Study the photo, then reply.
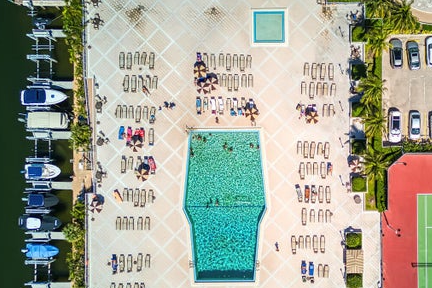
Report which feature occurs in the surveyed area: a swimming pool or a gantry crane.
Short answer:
swimming pool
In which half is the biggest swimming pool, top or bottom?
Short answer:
bottom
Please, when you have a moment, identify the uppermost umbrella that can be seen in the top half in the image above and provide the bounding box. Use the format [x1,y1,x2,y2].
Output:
[193,64,207,77]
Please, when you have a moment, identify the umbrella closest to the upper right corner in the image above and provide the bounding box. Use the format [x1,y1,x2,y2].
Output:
[305,112,320,126]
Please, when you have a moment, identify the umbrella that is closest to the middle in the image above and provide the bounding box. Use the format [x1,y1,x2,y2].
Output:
[244,107,259,121]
